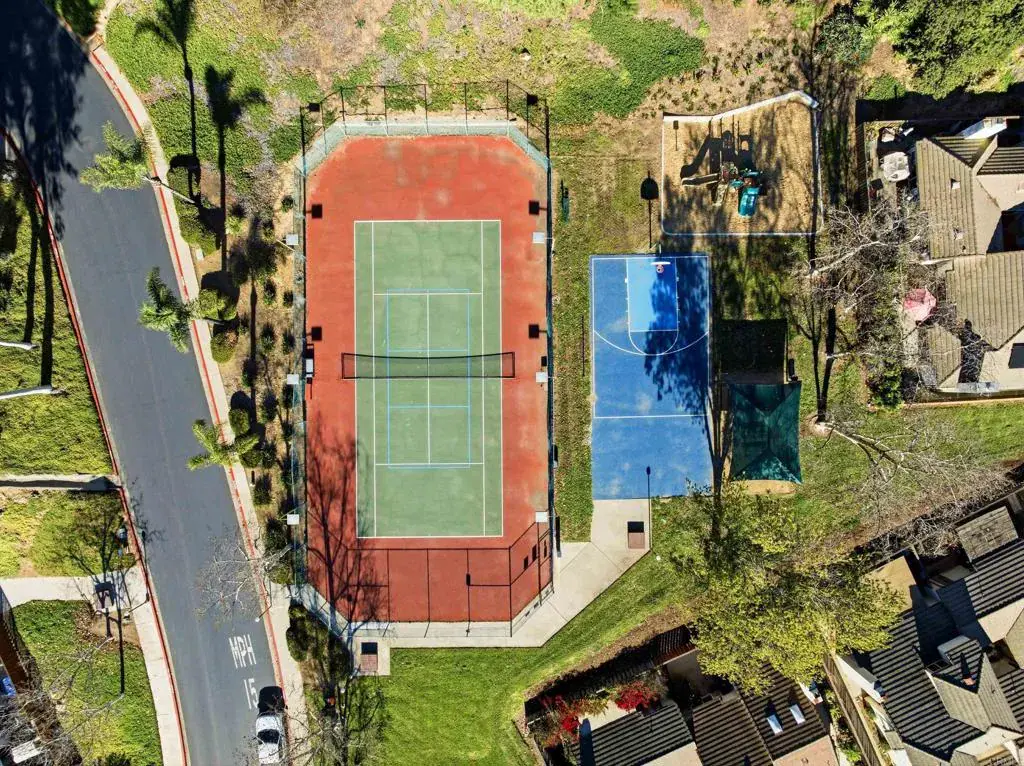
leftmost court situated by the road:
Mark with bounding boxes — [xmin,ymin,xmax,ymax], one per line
[307,136,551,623]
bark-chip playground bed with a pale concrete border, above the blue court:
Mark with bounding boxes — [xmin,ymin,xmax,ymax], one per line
[661,90,823,236]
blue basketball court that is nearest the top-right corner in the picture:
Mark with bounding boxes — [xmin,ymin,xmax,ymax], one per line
[590,254,713,500]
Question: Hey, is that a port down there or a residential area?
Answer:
residential area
